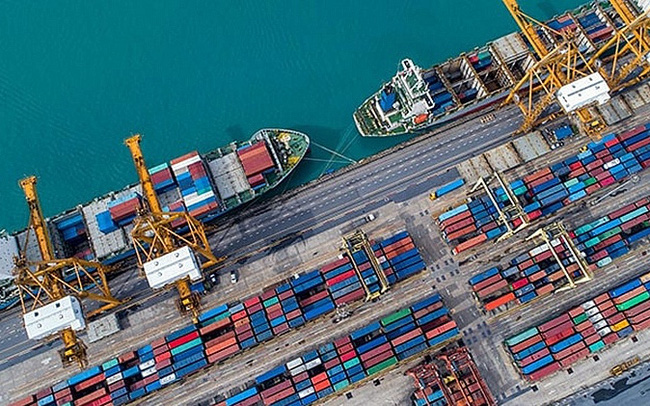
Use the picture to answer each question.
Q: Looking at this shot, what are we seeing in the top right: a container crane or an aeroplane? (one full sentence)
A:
It is a container crane that can be seen in the top right.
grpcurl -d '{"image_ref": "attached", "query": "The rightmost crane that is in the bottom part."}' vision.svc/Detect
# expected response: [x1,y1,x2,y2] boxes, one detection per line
[519,220,590,294]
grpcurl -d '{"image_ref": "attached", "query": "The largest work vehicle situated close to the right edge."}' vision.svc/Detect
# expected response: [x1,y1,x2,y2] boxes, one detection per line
[606,355,646,377]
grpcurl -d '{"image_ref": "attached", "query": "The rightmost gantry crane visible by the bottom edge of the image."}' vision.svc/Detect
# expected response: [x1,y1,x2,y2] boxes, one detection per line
[430,342,496,406]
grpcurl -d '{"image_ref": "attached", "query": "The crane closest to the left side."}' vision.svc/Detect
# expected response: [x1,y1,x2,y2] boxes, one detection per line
[10,178,131,363]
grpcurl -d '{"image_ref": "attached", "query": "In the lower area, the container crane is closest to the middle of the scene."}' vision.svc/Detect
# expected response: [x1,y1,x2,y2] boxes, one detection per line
[338,227,392,302]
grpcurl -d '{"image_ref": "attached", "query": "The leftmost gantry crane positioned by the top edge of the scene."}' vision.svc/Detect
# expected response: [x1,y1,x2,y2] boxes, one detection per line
[501,0,613,139]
